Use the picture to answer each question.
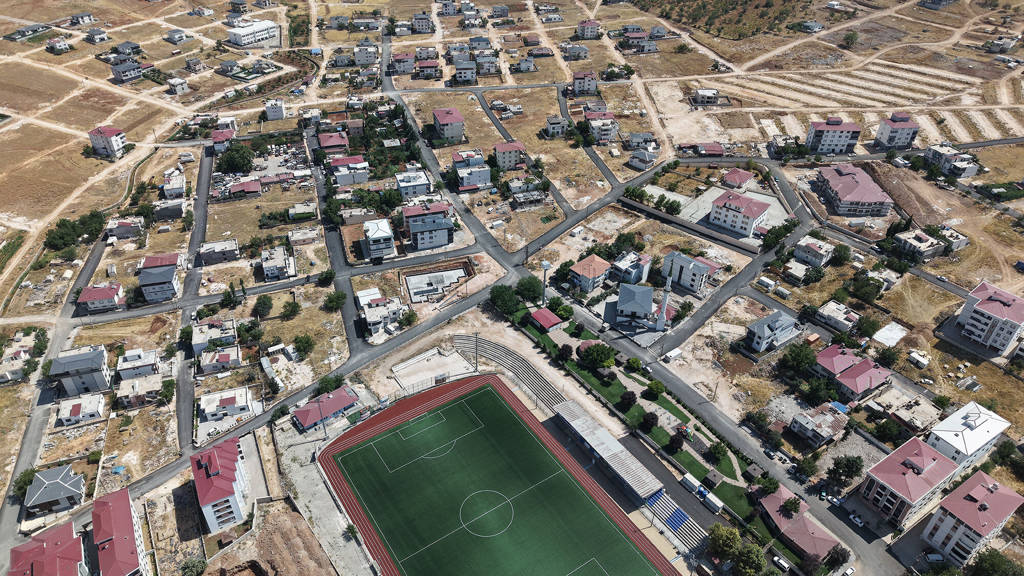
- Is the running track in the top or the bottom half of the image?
bottom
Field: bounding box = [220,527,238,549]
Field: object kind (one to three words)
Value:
gazebo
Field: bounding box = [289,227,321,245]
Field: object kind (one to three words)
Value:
house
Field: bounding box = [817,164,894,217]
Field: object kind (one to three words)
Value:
building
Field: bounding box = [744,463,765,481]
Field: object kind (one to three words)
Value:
gazebo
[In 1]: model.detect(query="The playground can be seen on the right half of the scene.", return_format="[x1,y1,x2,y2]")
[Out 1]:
[671,424,714,462]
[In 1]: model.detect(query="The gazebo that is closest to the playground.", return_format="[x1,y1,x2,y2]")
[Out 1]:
[704,469,725,488]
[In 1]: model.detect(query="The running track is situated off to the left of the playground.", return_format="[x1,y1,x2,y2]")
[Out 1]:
[317,375,686,576]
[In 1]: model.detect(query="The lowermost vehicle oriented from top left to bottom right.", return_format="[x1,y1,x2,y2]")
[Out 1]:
[772,555,790,572]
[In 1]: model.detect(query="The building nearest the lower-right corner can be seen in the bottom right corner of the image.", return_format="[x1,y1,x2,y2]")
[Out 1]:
[923,471,1024,564]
